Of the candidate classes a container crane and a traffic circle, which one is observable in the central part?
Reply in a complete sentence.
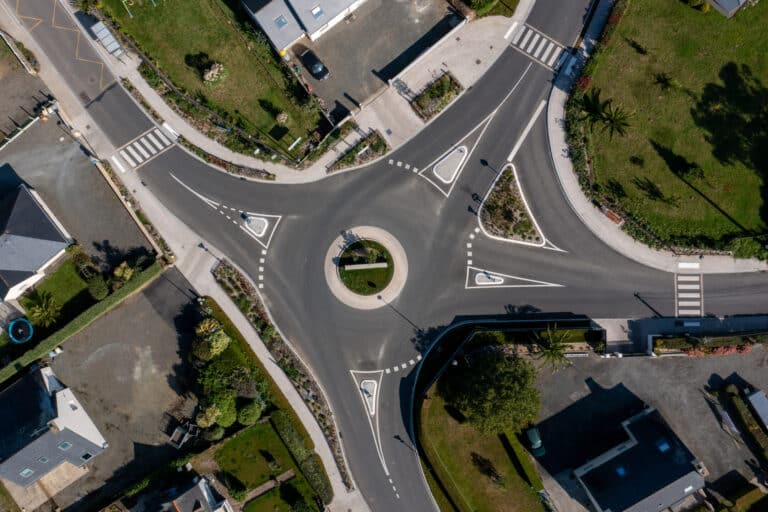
The feature located in the central part is a traffic circle.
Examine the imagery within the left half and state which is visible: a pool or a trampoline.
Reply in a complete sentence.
The feature located within the left half is a trampoline.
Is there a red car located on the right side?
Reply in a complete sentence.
No, no red car can be made out on the right side.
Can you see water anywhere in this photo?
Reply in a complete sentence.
No, no water is visible.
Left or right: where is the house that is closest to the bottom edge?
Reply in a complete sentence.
The house that is closest to the bottom edge appears in the left half of the scene.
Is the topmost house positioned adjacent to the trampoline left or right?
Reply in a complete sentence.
It is on the left.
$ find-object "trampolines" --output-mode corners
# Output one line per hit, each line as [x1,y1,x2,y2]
[8,319,37,343]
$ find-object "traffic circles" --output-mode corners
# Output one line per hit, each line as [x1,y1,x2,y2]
[325,226,408,309]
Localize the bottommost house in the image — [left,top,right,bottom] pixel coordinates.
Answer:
[175,477,244,512]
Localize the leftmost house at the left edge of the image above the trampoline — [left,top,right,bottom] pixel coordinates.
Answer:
[0,184,76,317]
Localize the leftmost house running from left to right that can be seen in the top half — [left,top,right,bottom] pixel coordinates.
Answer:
[242,0,375,53]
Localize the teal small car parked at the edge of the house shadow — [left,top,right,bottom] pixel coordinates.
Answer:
[524,424,547,457]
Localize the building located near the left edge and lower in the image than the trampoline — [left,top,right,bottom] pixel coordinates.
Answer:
[0,363,106,512]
